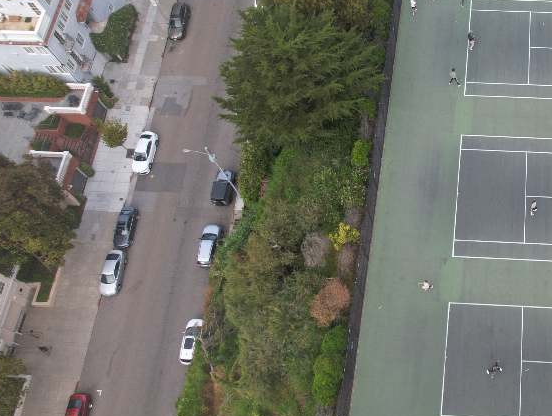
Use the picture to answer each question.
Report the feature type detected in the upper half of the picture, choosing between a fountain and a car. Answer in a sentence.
The feature located in the upper half of the picture is a car.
